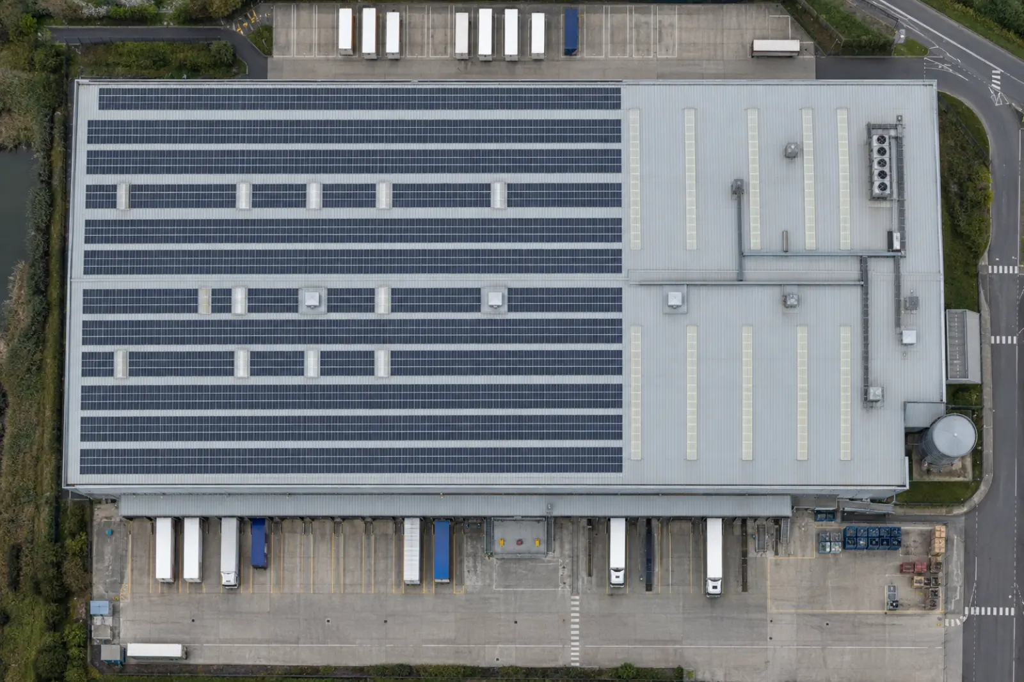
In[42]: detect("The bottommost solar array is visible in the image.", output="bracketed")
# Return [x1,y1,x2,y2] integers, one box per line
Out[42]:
[80,449,622,474]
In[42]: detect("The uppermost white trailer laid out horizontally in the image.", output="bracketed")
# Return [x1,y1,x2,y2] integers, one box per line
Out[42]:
[752,39,800,56]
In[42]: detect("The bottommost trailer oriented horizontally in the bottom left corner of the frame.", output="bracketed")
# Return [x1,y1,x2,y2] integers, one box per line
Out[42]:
[127,644,189,659]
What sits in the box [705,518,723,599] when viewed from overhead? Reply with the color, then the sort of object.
white vehicle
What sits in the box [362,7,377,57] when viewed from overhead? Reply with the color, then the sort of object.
white trailer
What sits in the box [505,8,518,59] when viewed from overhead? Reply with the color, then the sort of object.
white vehicle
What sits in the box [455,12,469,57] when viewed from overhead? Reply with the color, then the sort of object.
white trailer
